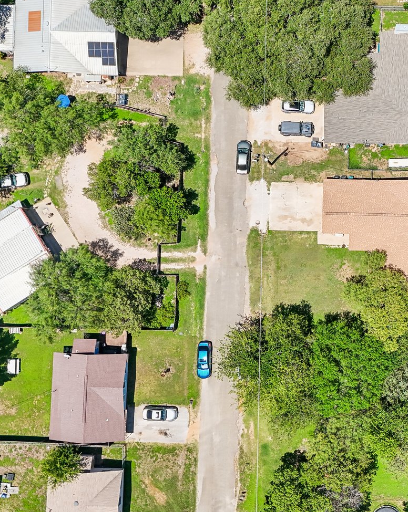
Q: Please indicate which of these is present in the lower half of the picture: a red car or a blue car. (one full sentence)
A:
It is a blue car that can be seen in the lower half of the picture.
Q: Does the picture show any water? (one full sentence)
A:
No, the scene doesn't show any water.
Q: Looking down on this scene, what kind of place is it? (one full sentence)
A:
This looks like a residential area.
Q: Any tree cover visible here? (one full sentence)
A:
Yes, the picture does contain tree cover.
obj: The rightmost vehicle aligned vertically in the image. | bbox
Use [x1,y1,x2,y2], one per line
[234,140,252,176]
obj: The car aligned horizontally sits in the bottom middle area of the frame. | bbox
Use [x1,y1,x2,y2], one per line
[142,405,180,423]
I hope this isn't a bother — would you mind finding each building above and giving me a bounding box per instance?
[45,450,127,512]
[0,200,64,312]
[0,0,121,85]
[49,339,134,444]
[325,24,408,145]
[322,179,408,291]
